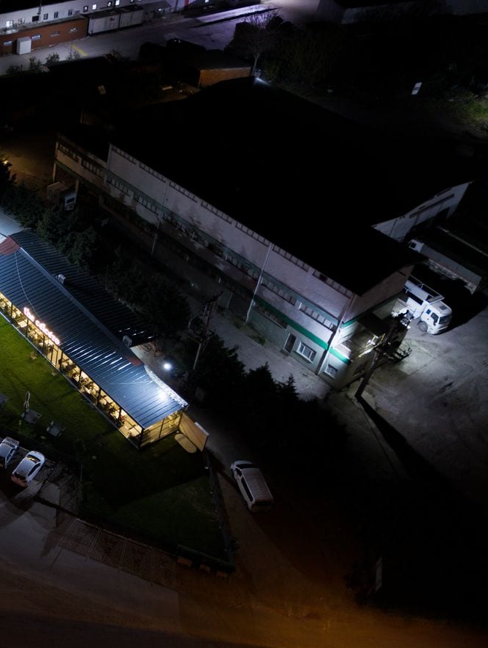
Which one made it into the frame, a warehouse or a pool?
warehouse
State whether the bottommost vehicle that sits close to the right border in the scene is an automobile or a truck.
truck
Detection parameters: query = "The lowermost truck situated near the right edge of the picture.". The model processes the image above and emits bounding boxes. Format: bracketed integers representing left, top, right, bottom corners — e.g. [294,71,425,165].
[409,281,465,333]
